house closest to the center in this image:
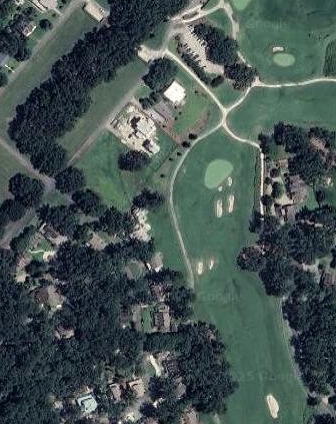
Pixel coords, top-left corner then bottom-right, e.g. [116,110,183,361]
[130,207,151,243]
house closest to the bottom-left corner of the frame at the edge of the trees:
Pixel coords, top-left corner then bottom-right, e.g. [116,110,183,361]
[75,390,99,413]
